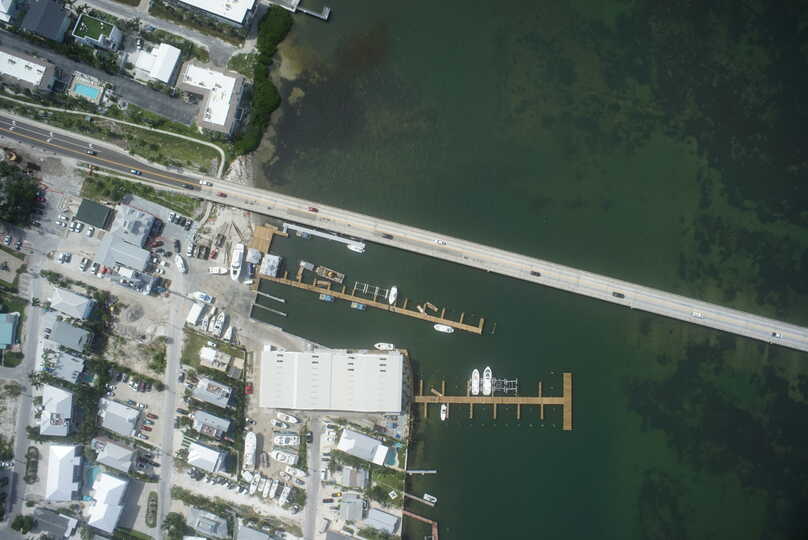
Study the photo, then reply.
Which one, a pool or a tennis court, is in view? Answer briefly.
pool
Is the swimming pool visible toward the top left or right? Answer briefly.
left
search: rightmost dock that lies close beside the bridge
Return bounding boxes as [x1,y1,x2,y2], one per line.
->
[414,373,572,431]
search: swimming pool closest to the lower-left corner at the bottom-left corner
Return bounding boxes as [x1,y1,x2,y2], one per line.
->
[86,462,104,490]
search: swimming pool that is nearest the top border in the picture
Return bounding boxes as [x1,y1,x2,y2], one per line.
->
[68,73,108,105]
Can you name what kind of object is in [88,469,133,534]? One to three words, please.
house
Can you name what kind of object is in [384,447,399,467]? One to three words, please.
swimming pool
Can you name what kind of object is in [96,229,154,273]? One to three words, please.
building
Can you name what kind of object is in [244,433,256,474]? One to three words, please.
boat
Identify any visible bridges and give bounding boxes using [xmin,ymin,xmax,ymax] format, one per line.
[203,176,808,351]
